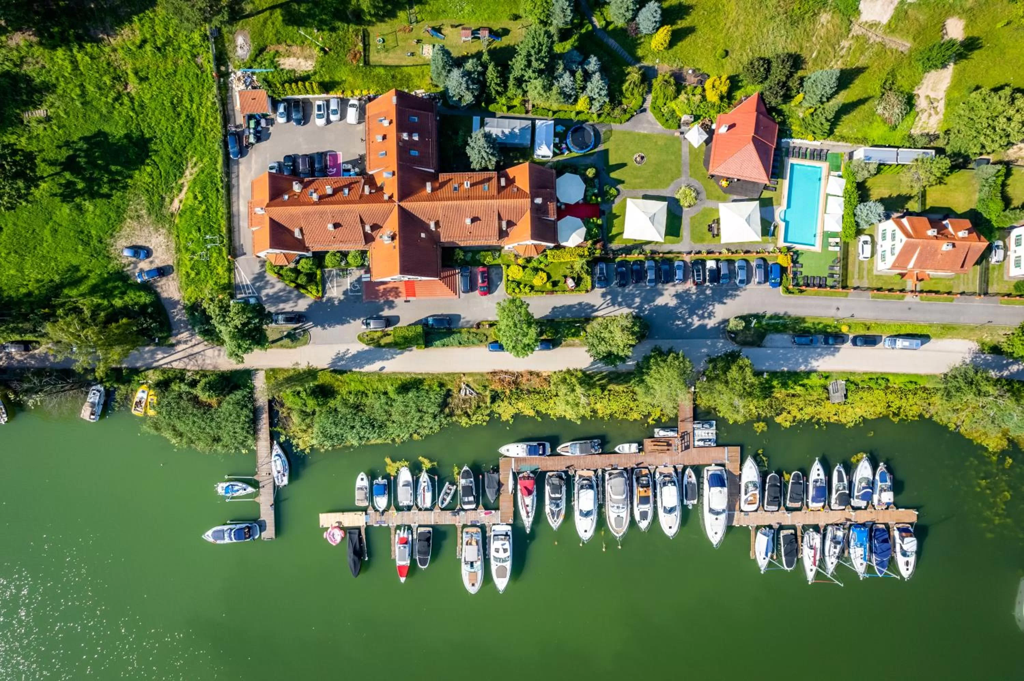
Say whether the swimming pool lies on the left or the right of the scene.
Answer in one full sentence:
You can find the swimming pool on the right side of the picture.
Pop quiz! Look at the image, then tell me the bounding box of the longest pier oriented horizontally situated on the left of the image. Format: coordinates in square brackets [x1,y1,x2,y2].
[319,510,500,528]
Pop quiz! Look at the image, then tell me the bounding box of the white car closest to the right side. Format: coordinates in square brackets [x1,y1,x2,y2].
[988,237,1007,267]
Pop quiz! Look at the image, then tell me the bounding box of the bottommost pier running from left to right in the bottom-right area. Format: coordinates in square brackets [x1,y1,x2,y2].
[733,509,917,526]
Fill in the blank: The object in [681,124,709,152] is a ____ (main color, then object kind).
white tent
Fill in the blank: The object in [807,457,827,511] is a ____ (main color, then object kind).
white boat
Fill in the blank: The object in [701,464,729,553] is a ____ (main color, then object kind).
white boat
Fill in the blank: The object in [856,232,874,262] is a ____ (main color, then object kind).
white car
